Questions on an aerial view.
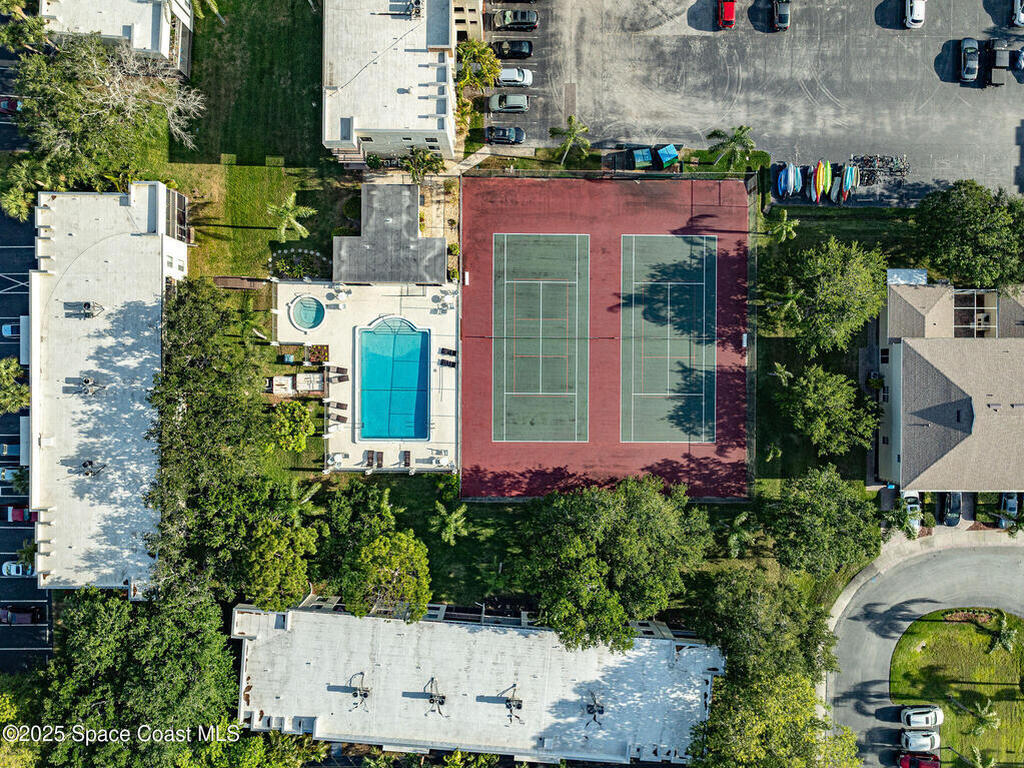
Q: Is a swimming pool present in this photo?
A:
Yes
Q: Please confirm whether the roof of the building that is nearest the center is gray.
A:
Yes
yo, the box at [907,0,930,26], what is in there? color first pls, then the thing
white car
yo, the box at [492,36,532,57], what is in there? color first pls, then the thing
black car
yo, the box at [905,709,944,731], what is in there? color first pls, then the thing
white car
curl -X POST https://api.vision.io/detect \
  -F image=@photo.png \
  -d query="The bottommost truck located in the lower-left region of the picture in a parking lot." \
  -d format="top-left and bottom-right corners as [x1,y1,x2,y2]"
[0,605,37,628]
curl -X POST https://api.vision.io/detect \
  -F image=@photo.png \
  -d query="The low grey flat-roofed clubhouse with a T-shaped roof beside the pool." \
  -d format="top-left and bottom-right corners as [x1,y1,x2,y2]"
[333,184,448,286]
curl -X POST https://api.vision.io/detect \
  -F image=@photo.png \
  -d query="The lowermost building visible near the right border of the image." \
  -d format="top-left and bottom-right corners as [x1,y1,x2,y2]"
[879,284,1024,492]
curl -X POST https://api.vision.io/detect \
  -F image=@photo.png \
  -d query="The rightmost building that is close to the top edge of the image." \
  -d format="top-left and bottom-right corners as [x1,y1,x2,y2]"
[322,0,455,180]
